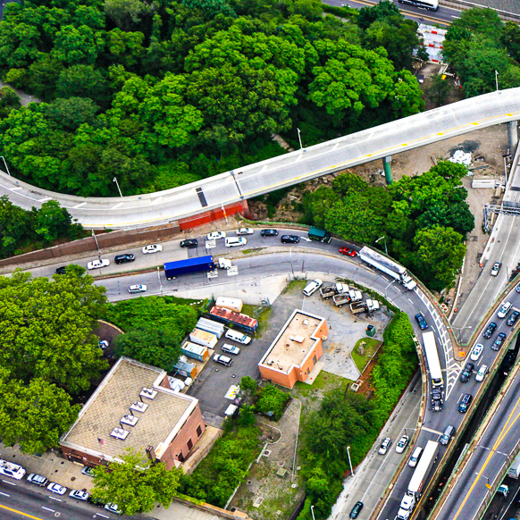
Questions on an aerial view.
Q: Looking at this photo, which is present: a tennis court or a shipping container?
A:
shipping container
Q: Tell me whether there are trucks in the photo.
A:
Yes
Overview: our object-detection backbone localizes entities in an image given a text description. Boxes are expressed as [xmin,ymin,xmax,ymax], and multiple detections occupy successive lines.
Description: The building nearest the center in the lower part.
[257,309,326,389]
